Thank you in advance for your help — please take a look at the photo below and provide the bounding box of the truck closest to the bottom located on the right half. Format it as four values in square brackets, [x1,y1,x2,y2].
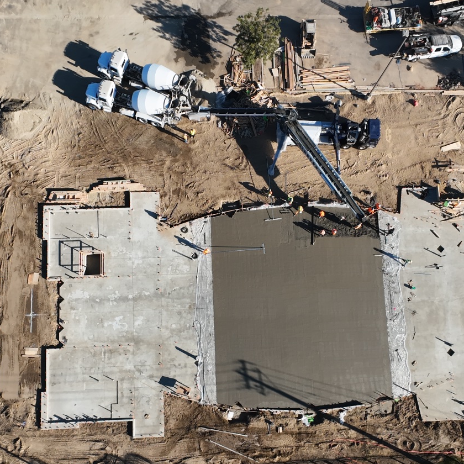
[187,103,380,220]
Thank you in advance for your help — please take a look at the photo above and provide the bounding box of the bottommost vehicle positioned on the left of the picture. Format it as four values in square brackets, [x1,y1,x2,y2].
[81,74,204,129]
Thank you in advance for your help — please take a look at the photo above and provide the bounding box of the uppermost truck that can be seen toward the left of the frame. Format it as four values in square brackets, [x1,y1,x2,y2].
[95,41,218,97]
